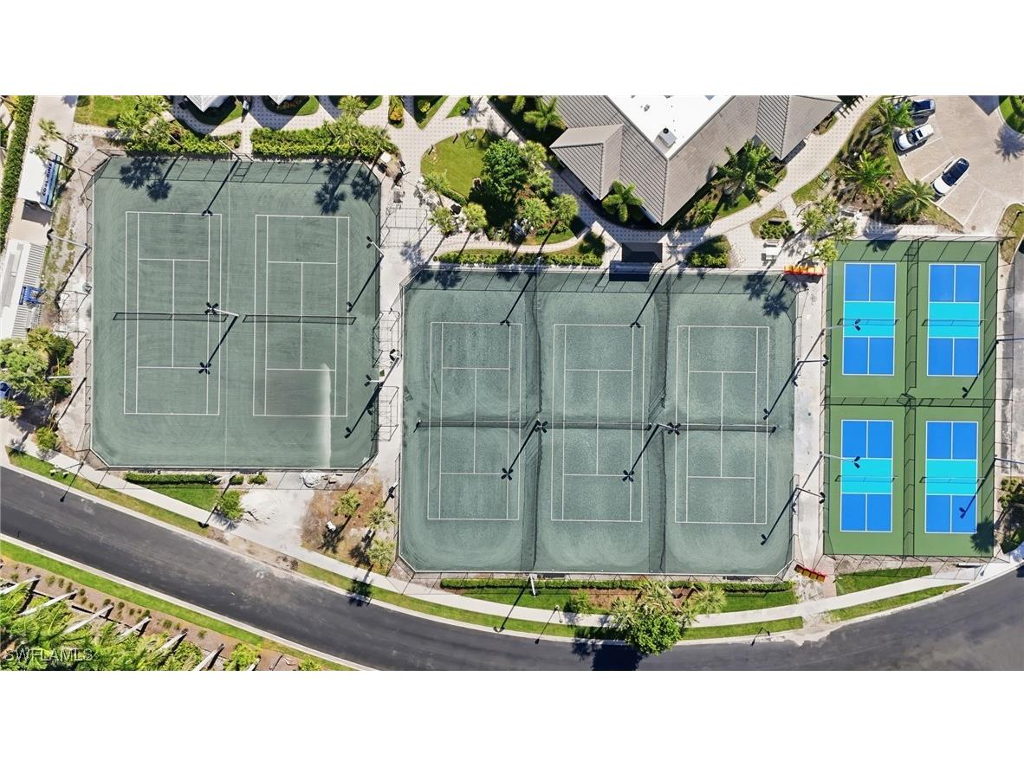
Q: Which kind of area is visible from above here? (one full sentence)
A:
The area seen from above is a sports ground.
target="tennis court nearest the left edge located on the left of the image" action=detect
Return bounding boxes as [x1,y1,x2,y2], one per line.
[91,157,228,467]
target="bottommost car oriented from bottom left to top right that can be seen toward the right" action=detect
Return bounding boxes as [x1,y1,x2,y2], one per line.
[930,156,974,194]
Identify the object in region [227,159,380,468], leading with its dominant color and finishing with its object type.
gray tennis court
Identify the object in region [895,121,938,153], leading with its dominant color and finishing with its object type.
white car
